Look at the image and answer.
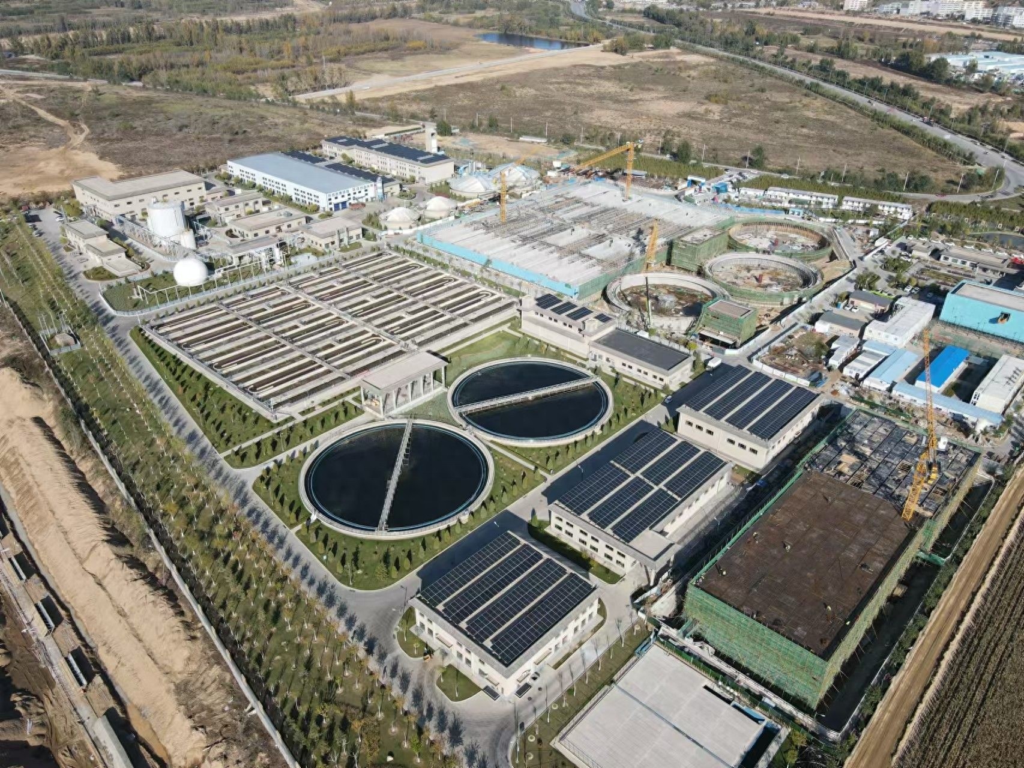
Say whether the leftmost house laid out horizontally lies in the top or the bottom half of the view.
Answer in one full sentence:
The leftmost house laid out horizontally sits in the top half of the picture.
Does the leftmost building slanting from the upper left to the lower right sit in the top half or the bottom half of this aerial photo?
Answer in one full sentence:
The leftmost building slanting from the upper left to the lower right sits in the top half of the picture.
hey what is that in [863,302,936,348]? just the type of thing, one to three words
building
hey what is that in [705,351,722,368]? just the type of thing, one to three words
vehicle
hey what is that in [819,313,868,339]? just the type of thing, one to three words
shed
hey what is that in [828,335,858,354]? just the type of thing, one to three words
building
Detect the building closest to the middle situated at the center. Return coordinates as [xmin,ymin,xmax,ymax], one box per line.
[517,293,618,357]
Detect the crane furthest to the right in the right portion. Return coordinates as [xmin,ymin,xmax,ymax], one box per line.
[900,319,944,528]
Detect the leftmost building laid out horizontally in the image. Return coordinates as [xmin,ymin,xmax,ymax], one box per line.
[70,171,210,220]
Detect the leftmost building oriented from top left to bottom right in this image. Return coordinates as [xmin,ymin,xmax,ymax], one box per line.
[62,220,143,281]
